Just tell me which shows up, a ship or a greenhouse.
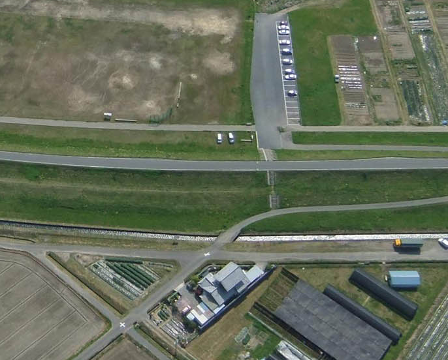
greenhouse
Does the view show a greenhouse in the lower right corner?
Yes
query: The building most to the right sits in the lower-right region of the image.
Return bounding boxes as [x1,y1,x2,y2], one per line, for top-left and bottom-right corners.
[388,271,419,290]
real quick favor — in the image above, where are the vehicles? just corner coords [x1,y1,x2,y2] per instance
[335,73,340,82]
[280,39,291,44]
[285,74,296,80]
[395,238,425,249]
[279,30,290,35]
[280,19,289,24]
[288,90,296,95]
[228,131,235,142]
[283,58,292,63]
[279,24,289,30]
[284,68,294,73]
[439,239,448,247]
[282,49,291,54]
